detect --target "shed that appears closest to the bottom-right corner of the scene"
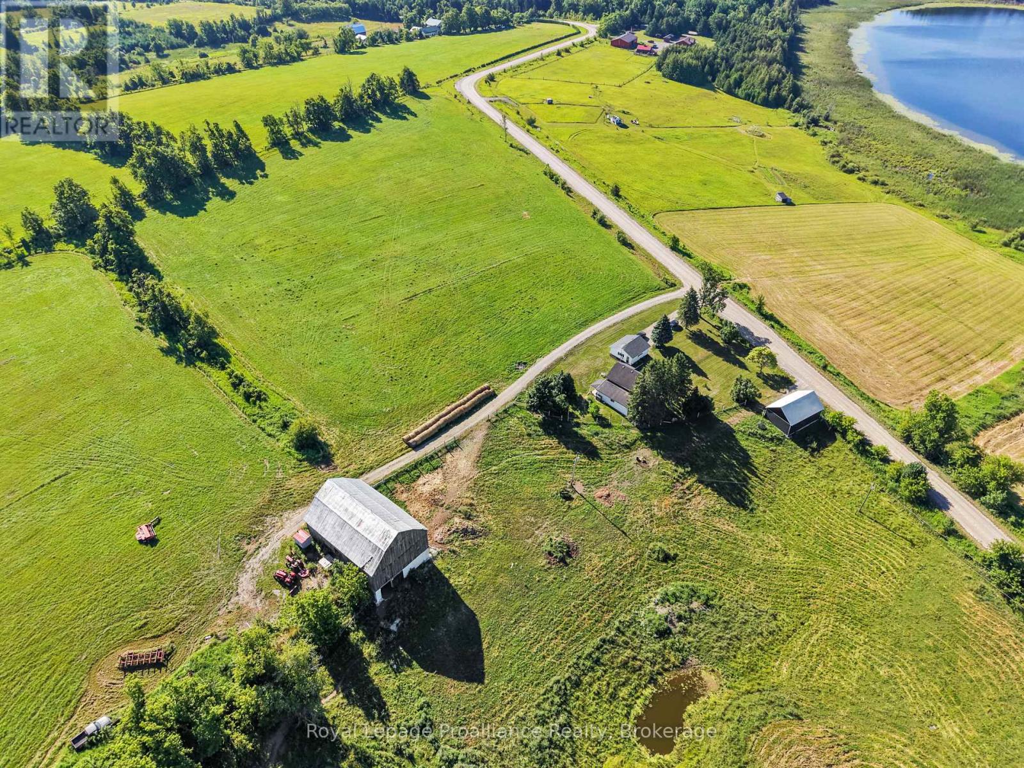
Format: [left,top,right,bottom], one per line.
[766,396,824,437]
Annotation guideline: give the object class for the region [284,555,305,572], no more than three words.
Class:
work vehicle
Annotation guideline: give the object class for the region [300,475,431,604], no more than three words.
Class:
barn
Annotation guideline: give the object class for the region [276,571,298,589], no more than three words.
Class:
work vehicle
